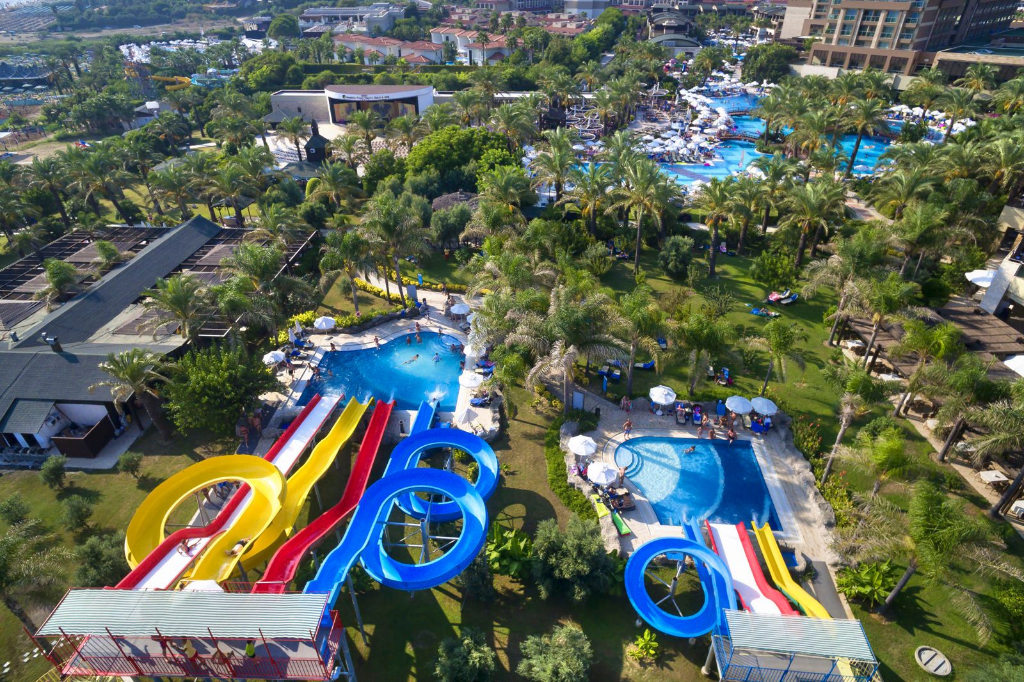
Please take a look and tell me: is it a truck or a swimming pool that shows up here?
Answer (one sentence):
I can see a swimming pool in this picture.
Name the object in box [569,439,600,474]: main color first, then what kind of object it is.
white umbrella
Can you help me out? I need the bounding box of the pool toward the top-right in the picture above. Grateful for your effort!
[566,93,943,187]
